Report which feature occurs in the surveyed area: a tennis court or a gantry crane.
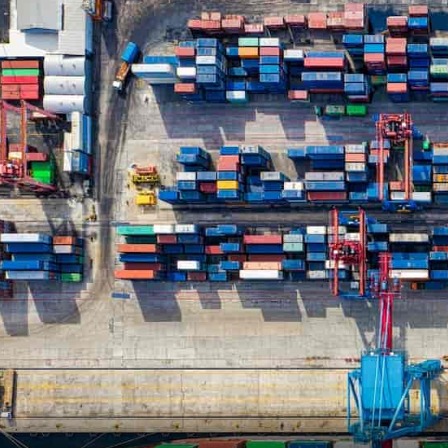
gantry crane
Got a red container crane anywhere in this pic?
Yes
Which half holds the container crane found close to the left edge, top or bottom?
top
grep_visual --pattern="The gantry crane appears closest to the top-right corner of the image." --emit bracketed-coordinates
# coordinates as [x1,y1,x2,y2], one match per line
[376,114,423,213]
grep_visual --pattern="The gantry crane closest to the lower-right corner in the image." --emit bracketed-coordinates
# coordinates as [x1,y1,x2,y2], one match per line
[347,251,447,448]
